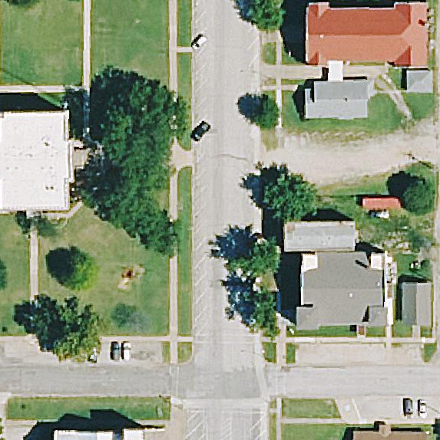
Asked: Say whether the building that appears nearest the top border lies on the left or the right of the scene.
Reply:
right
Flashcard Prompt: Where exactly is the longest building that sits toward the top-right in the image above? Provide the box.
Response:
[307,1,428,65]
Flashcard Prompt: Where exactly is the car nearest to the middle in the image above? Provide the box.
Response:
[193,121,210,139]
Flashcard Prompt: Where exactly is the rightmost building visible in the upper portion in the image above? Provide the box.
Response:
[408,68,433,92]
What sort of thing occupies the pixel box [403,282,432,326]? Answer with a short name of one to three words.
building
